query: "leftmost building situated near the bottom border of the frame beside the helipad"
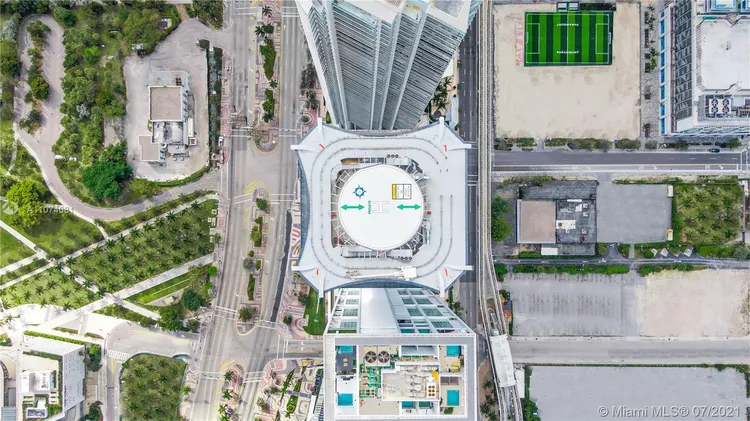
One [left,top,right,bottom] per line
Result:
[324,288,479,421]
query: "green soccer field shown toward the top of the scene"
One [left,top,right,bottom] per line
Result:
[524,10,615,66]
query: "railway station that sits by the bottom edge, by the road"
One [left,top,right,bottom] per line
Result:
[489,306,524,421]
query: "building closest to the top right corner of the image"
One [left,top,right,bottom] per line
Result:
[656,0,750,140]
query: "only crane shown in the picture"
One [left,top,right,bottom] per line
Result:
[346,267,417,281]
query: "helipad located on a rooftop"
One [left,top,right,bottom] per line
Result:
[333,158,428,256]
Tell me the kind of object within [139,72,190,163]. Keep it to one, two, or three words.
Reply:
building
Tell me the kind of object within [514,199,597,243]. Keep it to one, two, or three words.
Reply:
building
